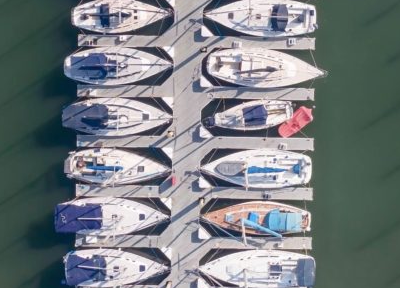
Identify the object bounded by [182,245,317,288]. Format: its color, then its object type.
white boat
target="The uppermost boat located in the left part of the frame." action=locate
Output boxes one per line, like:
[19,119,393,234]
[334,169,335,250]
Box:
[71,0,190,40]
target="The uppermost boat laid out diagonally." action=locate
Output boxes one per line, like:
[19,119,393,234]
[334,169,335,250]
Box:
[278,100,318,139]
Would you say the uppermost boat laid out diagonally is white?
No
